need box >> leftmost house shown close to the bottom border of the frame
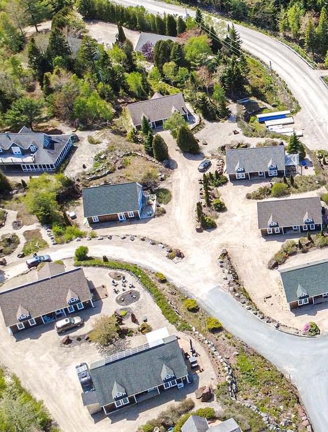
[81,326,190,426]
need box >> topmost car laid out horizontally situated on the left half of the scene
[24,251,52,266]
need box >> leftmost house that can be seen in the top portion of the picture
[0,119,77,179]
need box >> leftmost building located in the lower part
[0,263,94,334]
